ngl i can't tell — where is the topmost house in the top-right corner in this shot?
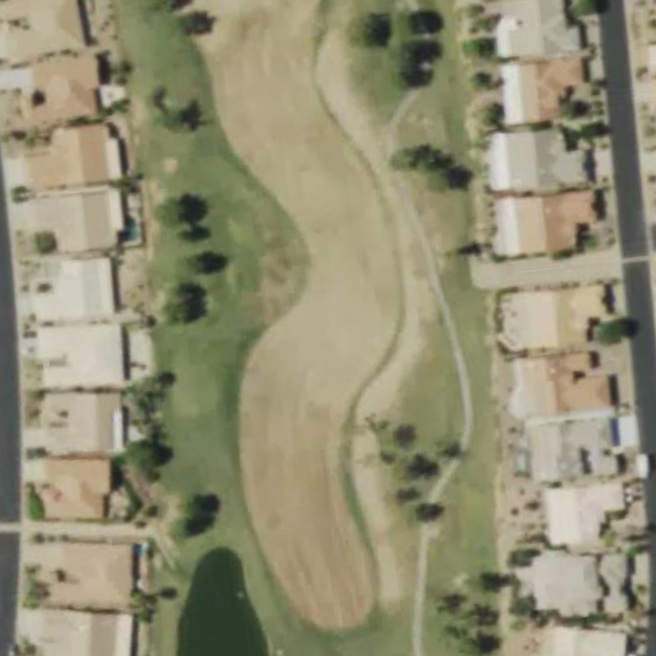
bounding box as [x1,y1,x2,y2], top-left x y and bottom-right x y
[496,0,585,59]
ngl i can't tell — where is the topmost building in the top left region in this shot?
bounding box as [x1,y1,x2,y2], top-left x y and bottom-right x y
[0,0,84,58]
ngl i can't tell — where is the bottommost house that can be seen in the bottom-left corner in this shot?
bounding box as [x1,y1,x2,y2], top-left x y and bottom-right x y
[41,609,132,656]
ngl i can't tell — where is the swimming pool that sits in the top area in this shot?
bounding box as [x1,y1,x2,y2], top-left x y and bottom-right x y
[124,214,138,243]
